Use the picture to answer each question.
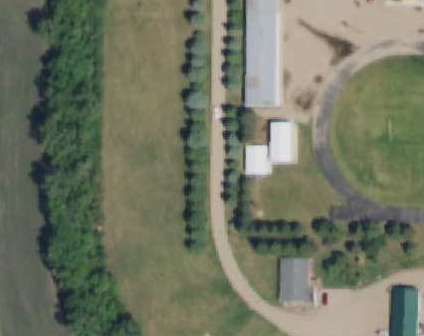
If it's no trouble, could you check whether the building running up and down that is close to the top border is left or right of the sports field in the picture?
on the left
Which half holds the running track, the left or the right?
right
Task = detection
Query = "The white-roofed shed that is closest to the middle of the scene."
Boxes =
[246,144,266,174]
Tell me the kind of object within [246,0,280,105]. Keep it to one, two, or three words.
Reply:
building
